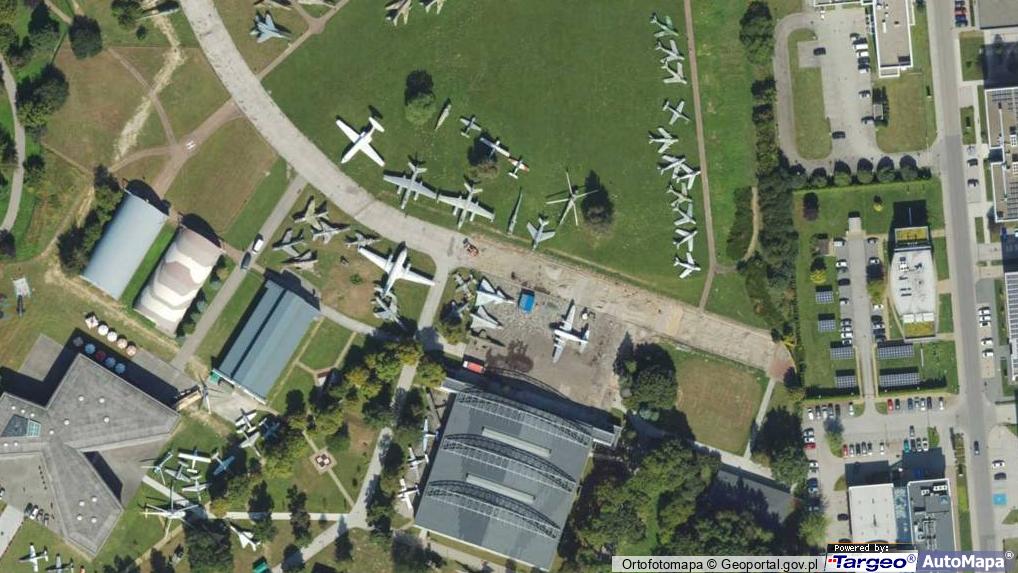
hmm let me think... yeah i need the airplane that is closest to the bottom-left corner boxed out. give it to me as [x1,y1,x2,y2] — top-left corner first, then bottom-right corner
[17,545,47,572]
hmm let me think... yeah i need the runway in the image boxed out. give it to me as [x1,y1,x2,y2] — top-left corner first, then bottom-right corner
[461,236,790,371]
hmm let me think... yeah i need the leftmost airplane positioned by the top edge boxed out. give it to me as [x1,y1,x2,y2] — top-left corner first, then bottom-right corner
[136,7,179,21]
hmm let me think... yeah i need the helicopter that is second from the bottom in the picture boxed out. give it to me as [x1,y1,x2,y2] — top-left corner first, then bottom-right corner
[141,454,173,484]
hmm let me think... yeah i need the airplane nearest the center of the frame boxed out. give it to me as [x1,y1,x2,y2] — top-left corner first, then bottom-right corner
[477,282,517,311]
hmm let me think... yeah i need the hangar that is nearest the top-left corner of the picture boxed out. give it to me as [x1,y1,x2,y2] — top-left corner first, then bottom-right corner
[82,190,169,301]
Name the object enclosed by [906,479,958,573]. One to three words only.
building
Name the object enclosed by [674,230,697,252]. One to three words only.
airplane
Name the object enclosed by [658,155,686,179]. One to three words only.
airplane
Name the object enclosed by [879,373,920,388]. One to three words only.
solar array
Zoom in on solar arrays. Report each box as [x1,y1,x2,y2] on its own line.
[831,348,854,360]
[879,373,920,388]
[818,320,835,332]
[816,291,833,304]
[878,344,914,359]
[836,376,856,388]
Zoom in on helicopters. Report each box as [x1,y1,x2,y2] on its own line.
[200,377,224,415]
[140,483,198,539]
[546,171,597,225]
[141,454,173,484]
